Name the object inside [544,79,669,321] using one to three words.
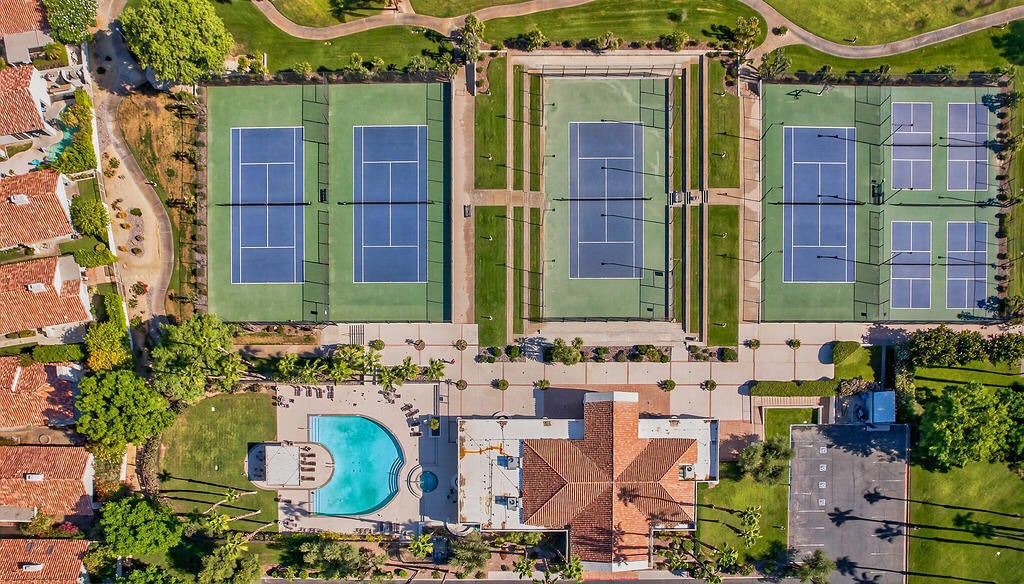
tennis court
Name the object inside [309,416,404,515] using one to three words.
swimming pool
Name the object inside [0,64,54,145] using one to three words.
house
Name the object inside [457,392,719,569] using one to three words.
building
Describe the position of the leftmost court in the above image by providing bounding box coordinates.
[207,85,329,322]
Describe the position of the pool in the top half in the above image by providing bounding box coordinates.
[44,100,77,162]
